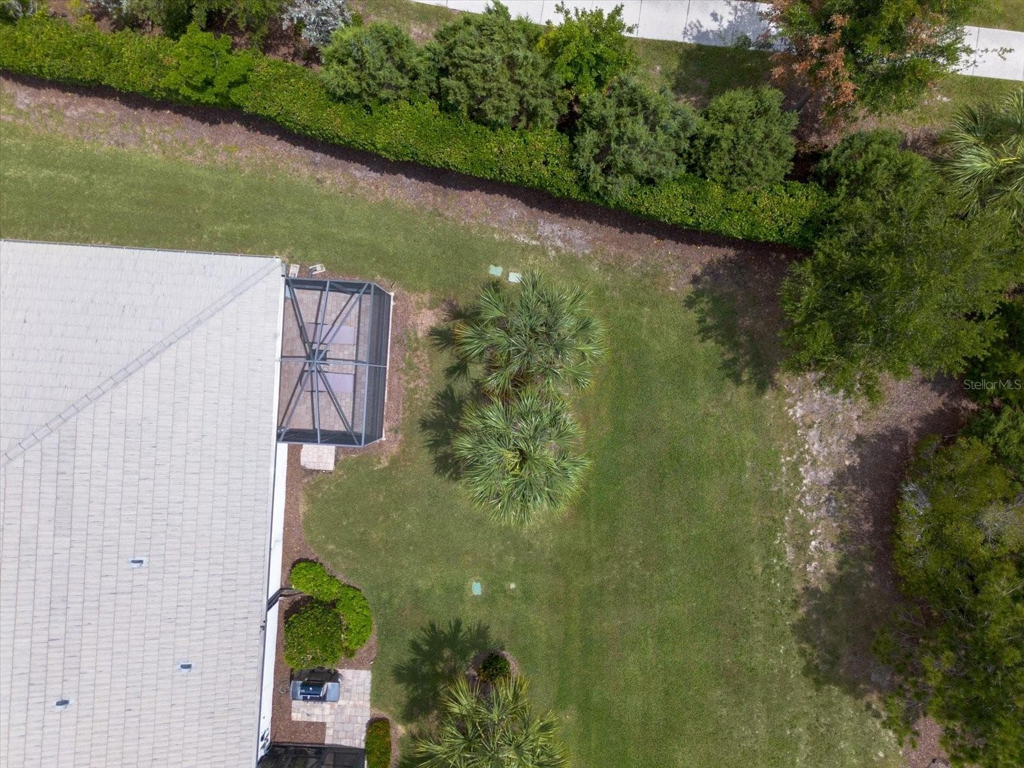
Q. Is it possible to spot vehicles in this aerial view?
No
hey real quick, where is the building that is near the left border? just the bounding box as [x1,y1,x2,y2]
[0,239,300,768]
